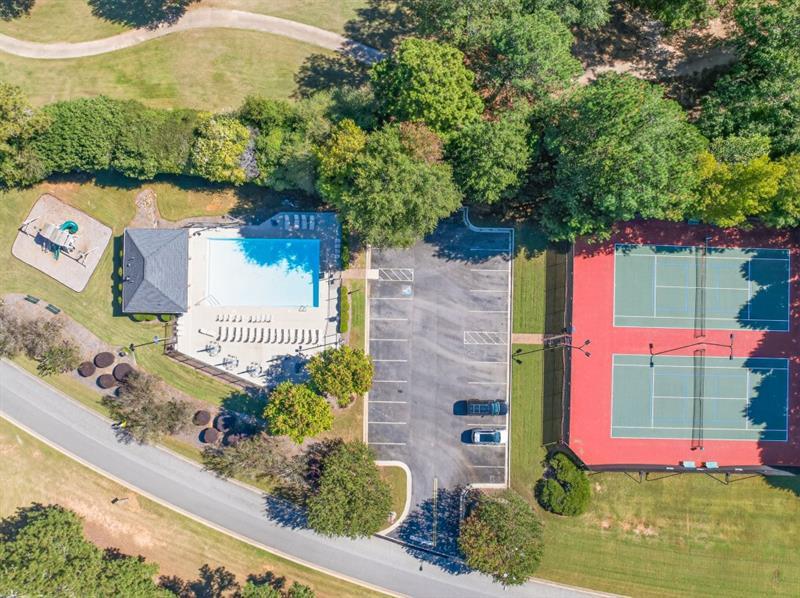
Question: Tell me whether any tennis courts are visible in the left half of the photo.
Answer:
No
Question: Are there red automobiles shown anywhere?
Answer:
No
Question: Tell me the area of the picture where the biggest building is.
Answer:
left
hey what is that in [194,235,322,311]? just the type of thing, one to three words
swimming pool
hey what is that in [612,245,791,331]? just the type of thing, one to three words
tennis court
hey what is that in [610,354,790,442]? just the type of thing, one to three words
tennis court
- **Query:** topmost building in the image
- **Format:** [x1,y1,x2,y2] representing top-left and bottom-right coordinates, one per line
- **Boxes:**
[123,225,194,313]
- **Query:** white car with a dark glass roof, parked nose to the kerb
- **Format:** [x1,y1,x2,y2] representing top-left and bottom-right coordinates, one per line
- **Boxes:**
[470,429,507,446]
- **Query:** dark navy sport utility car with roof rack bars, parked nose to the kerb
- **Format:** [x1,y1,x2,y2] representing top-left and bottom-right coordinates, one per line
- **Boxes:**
[466,399,505,417]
